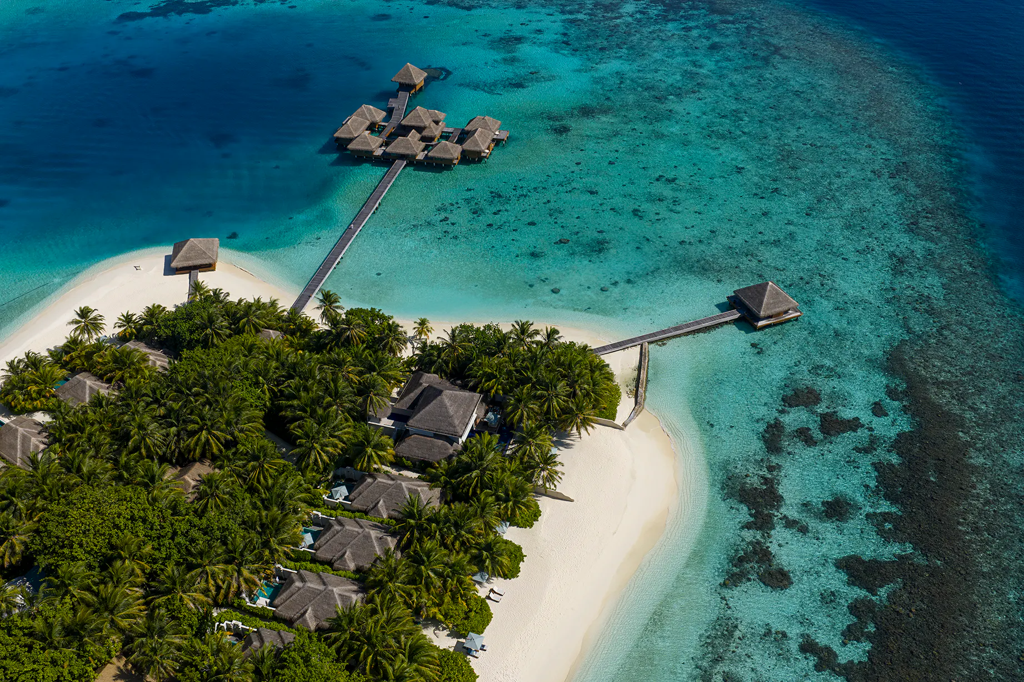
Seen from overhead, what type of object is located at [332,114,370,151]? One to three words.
house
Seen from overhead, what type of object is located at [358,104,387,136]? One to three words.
house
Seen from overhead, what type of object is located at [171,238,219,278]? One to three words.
building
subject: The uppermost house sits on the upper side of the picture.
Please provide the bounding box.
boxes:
[389,63,428,102]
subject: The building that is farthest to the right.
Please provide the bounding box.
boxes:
[725,280,804,337]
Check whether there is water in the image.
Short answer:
Yes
